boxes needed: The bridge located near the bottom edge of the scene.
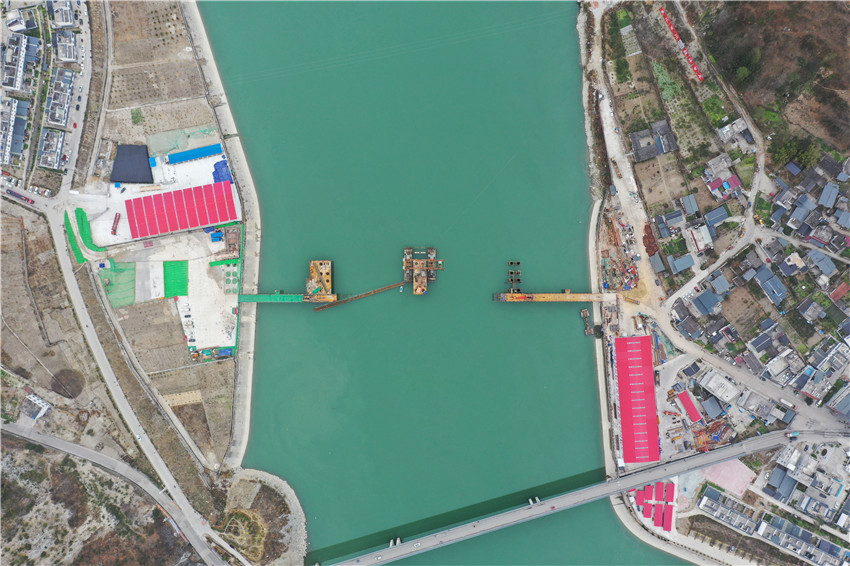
[314,427,815,566]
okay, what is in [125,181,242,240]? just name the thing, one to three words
building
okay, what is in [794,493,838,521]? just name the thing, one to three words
house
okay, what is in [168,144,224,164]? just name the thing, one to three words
building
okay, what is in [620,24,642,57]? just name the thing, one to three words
greenhouse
